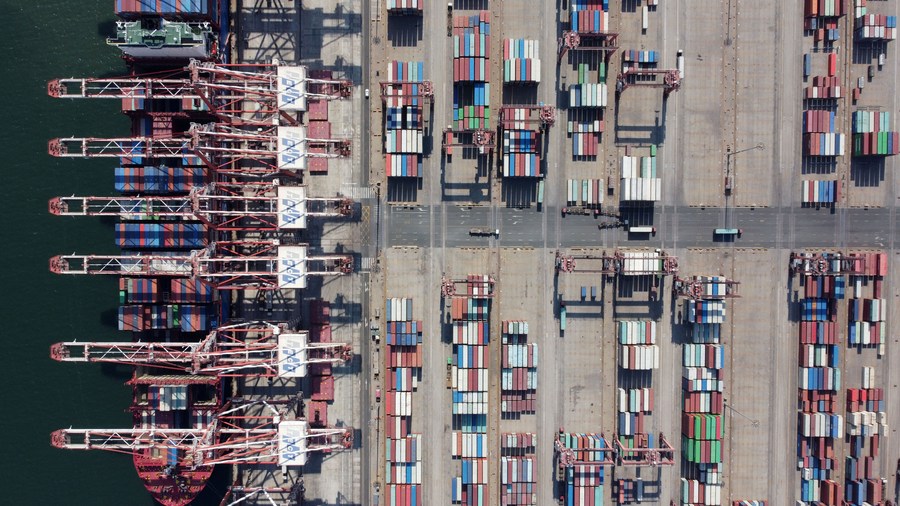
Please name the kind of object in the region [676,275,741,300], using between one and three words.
container crane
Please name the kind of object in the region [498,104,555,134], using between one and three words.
container crane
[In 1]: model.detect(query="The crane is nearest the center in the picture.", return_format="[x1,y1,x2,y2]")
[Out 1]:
[441,274,495,299]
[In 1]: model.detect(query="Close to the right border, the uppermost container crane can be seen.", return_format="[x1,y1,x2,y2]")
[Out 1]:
[793,252,865,277]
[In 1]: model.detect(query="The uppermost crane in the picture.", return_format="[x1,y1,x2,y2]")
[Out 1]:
[560,31,619,65]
